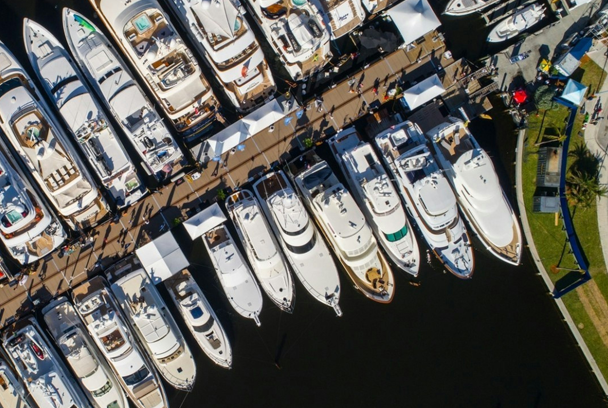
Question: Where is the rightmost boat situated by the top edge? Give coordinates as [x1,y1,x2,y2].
[484,0,556,43]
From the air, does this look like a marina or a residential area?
marina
